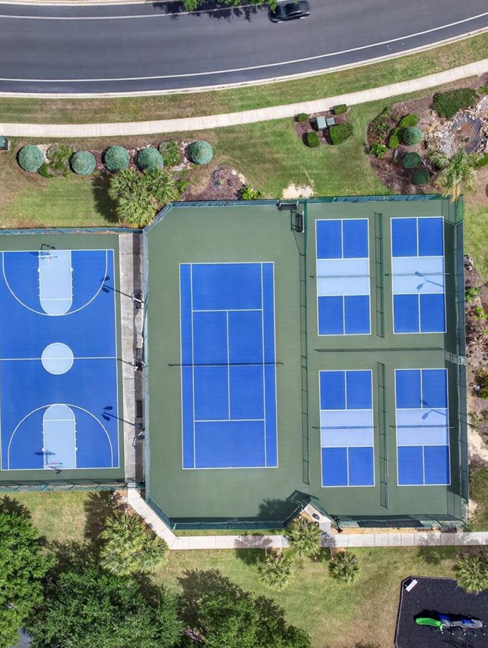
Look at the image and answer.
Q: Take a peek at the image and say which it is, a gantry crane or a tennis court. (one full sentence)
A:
The image shows a tennis court.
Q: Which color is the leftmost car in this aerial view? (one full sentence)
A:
The color of the leftmost car is black.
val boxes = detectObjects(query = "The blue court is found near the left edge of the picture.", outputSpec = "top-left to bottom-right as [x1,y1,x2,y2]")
[0,236,126,478]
